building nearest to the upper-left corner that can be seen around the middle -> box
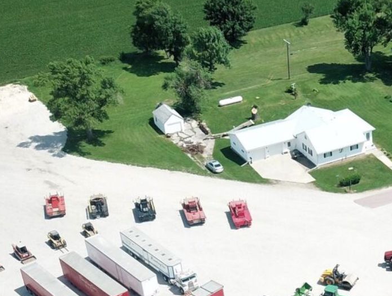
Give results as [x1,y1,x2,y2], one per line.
[152,103,183,135]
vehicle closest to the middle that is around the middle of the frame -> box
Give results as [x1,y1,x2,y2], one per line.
[202,160,228,173]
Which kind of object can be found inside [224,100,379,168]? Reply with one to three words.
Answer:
house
